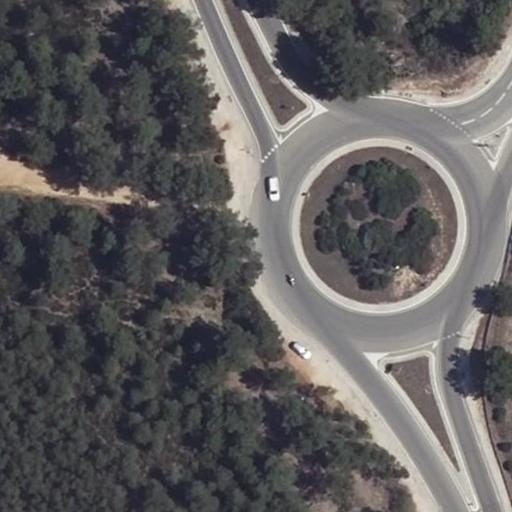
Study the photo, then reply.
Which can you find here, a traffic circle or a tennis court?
traffic circle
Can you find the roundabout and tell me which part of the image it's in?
right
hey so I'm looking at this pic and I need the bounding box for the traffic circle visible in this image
[252,98,506,352]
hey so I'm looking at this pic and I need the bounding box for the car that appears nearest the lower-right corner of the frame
[292,341,313,360]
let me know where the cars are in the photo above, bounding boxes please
[292,341,313,360]
[269,177,280,202]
